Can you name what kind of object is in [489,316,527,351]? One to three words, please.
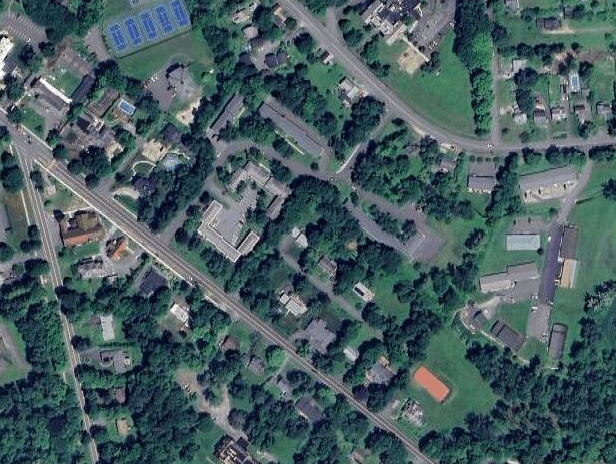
barn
